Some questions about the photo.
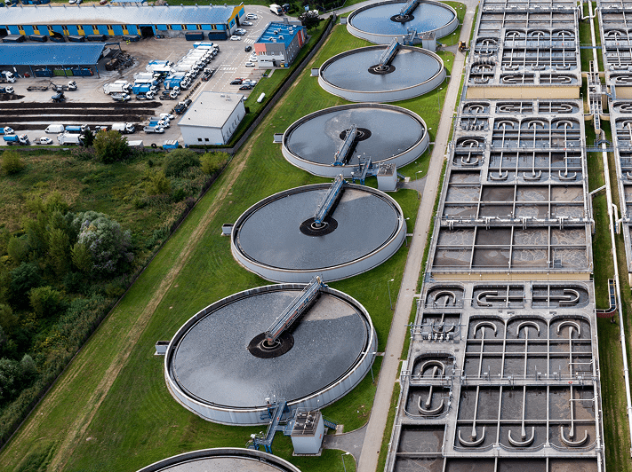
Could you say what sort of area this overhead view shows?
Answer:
industrial area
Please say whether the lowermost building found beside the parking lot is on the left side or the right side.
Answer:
left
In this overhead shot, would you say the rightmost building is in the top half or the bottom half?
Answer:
top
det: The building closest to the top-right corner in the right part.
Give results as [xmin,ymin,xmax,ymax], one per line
[421,30,452,51]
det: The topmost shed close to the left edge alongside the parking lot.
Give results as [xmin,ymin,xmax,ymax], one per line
[0,2,249,39]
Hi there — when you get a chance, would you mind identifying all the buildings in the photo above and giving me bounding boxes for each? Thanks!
[421,30,452,51]
[253,18,307,68]
[375,162,419,191]
[0,2,249,39]
[0,42,142,79]
[289,411,355,456]
[177,93,245,144]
